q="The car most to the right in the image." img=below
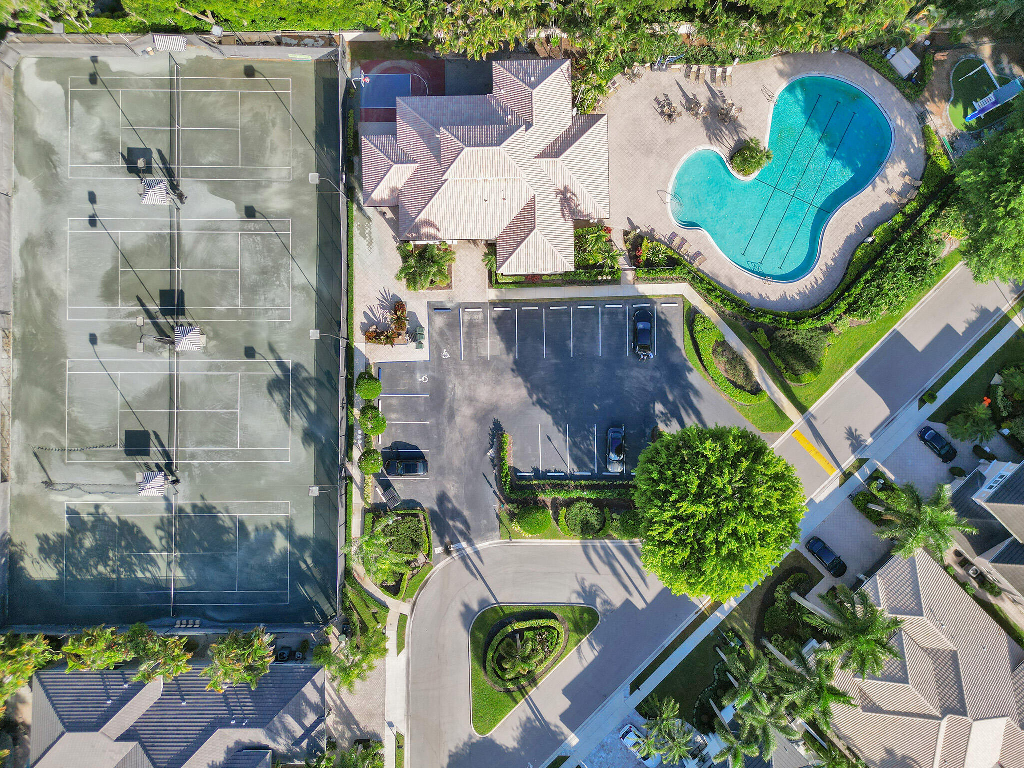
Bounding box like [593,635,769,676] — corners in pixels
[913,424,956,462]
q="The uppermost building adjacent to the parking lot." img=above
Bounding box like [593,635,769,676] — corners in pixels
[360,58,610,273]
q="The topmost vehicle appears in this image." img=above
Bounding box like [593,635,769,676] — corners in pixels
[632,308,655,355]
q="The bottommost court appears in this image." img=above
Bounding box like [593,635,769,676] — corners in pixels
[9,482,341,628]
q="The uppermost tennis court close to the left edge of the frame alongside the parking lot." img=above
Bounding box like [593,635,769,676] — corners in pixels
[11,47,341,199]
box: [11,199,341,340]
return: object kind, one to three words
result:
tennis court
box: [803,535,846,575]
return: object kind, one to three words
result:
car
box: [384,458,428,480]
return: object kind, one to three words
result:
car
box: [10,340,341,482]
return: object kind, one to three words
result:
tennis court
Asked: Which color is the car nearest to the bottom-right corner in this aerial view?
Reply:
black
